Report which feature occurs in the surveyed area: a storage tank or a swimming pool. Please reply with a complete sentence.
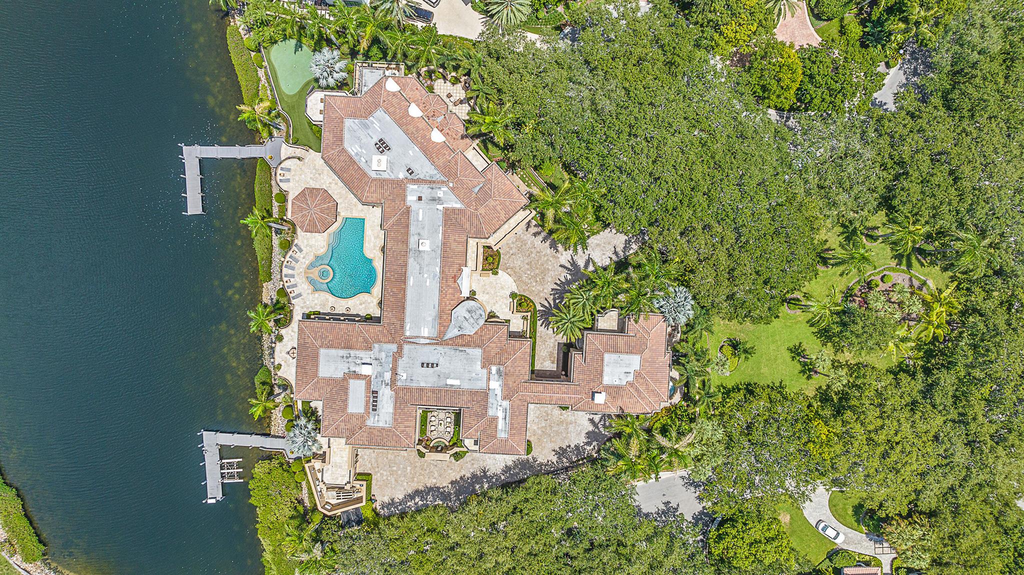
I can see a swimming pool in this picture.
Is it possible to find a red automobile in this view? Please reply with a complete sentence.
No, the scene contains no red automobile.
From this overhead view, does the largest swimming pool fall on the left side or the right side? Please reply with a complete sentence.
The largest swimming pool appears in the left half of the scene.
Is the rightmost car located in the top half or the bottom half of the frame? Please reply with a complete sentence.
The bottom half of the photo is where the rightmost car is.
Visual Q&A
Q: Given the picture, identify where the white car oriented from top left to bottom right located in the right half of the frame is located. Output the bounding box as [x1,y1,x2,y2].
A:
[815,518,848,547]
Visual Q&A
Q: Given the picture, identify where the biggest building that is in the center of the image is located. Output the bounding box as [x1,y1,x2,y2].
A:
[294,61,672,456]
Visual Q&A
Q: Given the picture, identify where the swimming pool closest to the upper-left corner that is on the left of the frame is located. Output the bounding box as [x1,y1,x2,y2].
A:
[301,214,381,302]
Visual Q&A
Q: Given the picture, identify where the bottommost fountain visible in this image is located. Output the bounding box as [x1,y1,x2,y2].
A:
[430,437,449,452]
